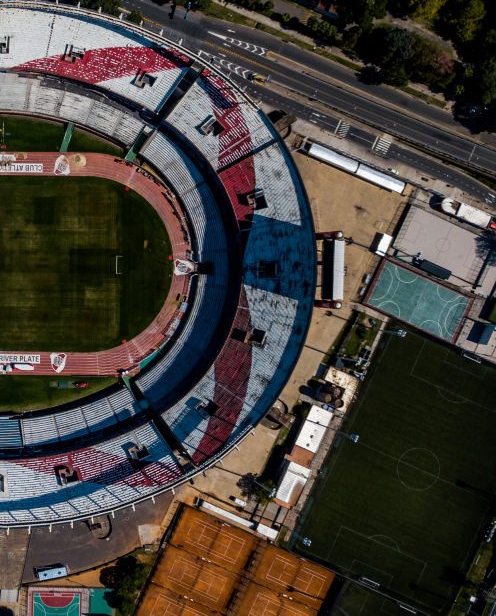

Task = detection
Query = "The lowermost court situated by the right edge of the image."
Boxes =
[362,255,476,346]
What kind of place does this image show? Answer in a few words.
sports ground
